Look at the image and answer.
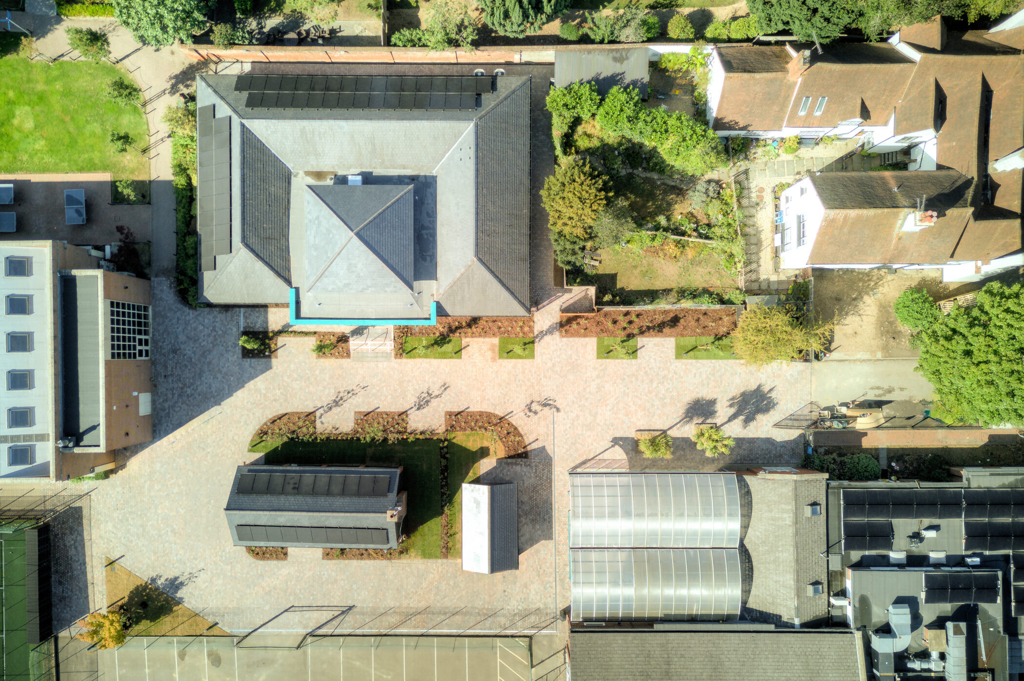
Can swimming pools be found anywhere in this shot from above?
No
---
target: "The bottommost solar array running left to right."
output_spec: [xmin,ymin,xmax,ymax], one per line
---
[921,572,999,608]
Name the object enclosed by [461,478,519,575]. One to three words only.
shed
